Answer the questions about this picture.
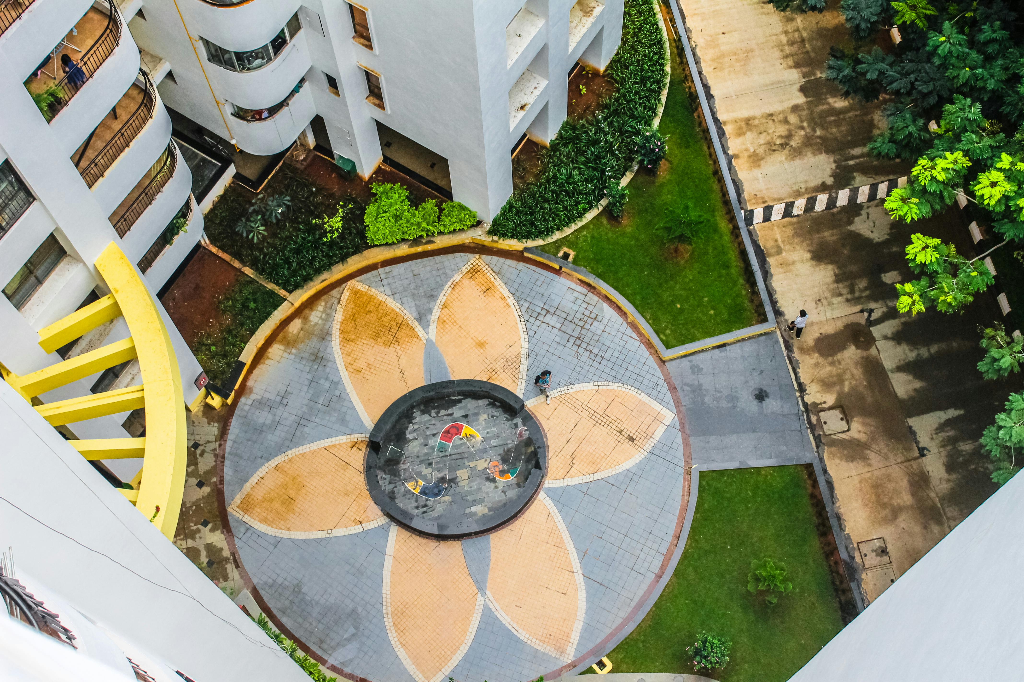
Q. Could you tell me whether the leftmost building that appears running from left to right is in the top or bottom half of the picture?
top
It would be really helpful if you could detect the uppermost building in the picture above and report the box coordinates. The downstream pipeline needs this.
[111,0,624,221]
